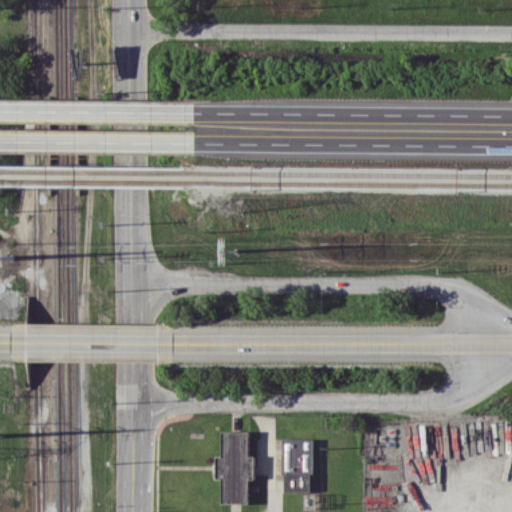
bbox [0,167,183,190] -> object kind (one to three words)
bridge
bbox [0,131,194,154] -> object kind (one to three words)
bridge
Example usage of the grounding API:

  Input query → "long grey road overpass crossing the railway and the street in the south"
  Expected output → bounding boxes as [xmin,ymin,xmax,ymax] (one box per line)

[10,324,173,364]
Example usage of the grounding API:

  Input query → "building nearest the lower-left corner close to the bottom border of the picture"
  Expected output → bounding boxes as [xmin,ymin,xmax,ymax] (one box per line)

[212,433,256,504]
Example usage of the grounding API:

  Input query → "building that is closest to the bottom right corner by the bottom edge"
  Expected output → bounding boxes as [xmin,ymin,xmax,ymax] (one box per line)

[278,440,314,492]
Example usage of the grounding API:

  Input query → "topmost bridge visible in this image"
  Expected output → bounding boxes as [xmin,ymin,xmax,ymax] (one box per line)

[0,100,194,124]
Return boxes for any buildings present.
[212,433,256,504]
[278,440,314,492]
